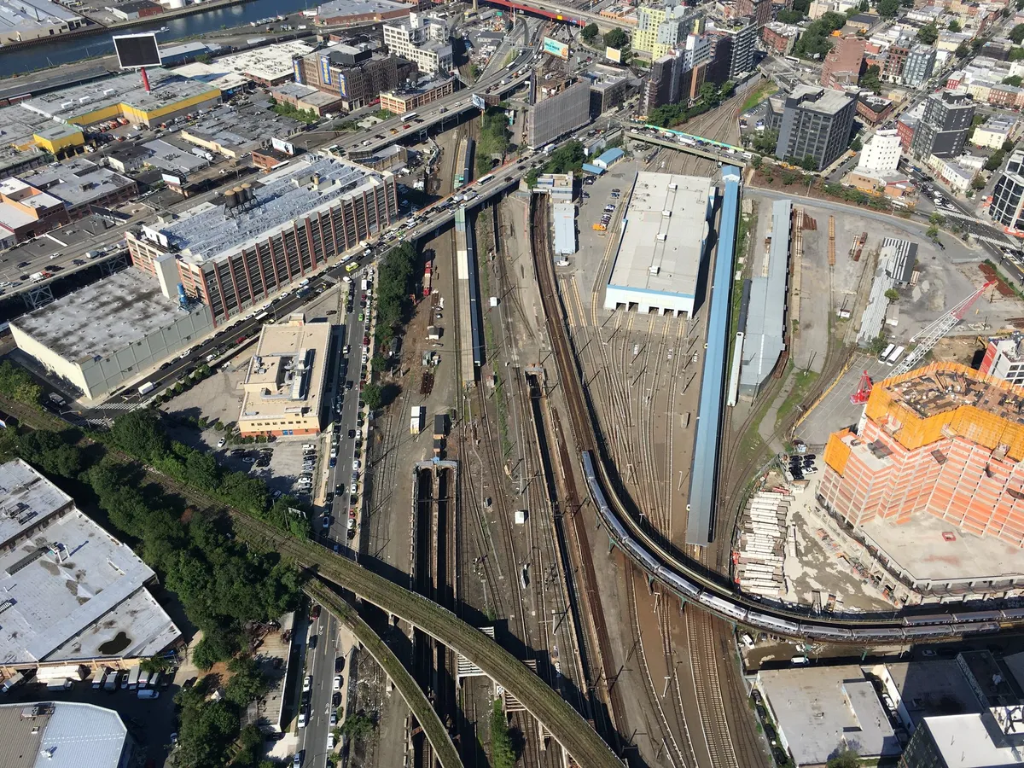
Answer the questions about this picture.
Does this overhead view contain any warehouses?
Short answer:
Yes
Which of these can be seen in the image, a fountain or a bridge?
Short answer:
bridge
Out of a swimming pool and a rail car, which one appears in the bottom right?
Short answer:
rail car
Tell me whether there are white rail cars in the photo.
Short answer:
Yes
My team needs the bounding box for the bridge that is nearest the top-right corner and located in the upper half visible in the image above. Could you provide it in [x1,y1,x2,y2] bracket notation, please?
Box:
[625,121,763,177]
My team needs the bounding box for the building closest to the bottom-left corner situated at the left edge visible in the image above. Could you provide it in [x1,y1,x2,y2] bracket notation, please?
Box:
[0,701,136,768]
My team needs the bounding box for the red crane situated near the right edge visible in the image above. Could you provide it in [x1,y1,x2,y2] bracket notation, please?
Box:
[847,281,996,405]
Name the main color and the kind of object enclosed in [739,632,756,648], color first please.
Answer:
white vehicle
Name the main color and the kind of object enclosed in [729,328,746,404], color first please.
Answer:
white rail car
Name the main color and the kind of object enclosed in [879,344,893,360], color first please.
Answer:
white vehicle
